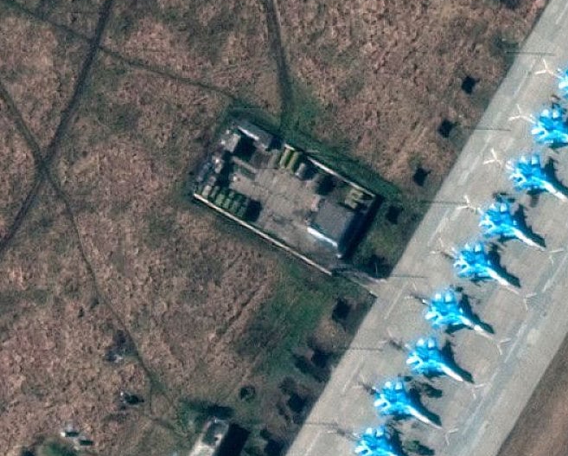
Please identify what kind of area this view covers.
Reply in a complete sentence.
This looks like an airport.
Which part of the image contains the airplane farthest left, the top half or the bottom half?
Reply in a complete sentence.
The airplane farthest left sits in the bottom half of the picture.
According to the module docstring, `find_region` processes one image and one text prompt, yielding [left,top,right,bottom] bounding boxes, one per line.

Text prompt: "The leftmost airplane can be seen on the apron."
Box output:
[352,428,397,456]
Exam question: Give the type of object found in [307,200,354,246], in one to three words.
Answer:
building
